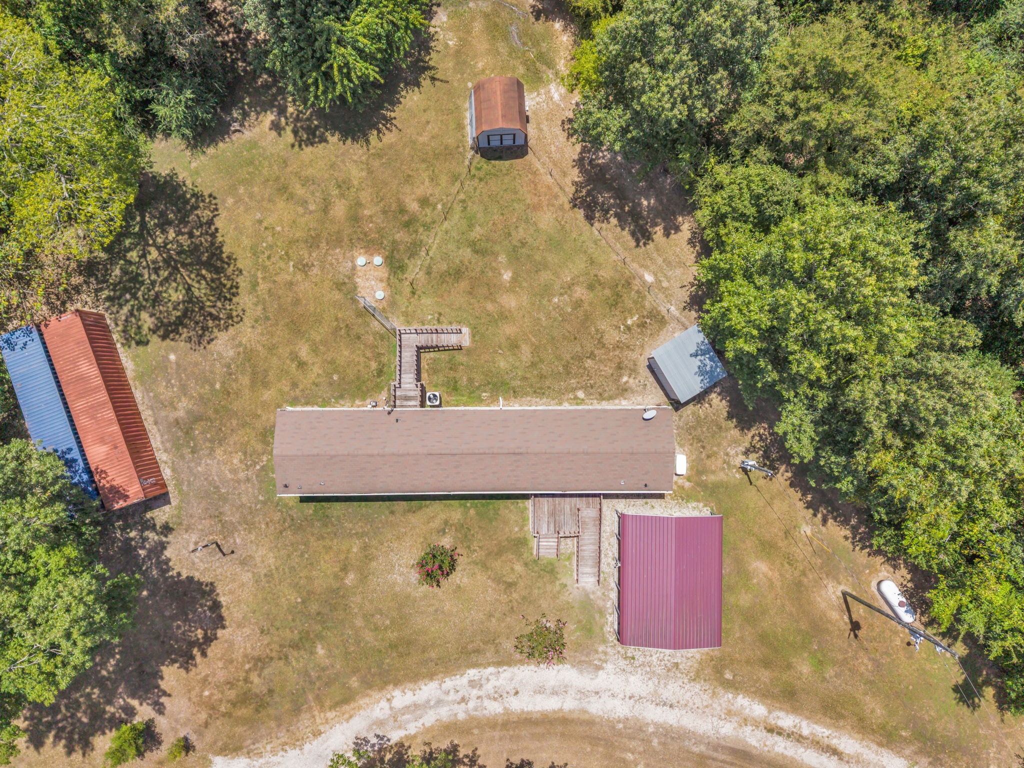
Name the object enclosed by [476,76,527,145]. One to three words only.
shed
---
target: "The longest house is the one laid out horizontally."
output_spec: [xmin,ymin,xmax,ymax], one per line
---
[271,406,675,498]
